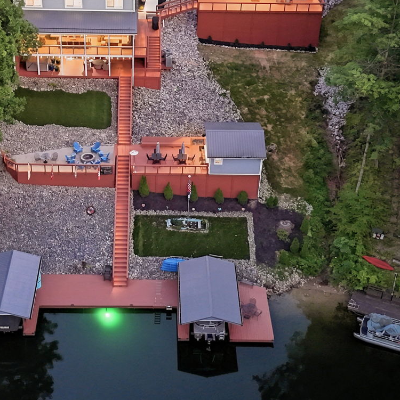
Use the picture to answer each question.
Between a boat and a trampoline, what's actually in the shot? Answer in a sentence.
It is a boat that can be seen here.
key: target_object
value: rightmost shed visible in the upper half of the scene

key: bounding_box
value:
[204,123,267,197]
